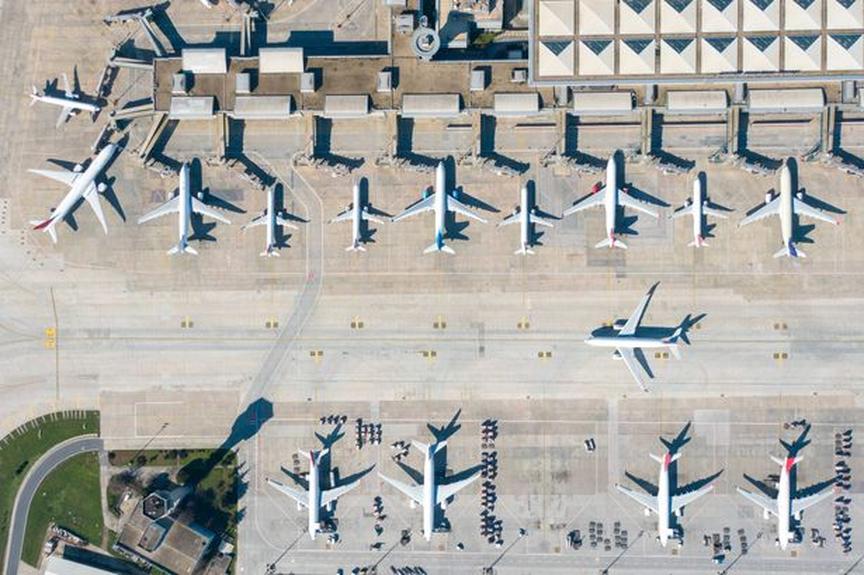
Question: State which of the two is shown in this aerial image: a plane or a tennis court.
plane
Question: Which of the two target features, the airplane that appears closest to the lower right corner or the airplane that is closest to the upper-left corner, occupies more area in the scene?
the airplane that appears closest to the lower right corner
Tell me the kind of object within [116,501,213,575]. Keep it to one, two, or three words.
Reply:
building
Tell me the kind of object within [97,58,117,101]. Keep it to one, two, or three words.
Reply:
jet bridge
